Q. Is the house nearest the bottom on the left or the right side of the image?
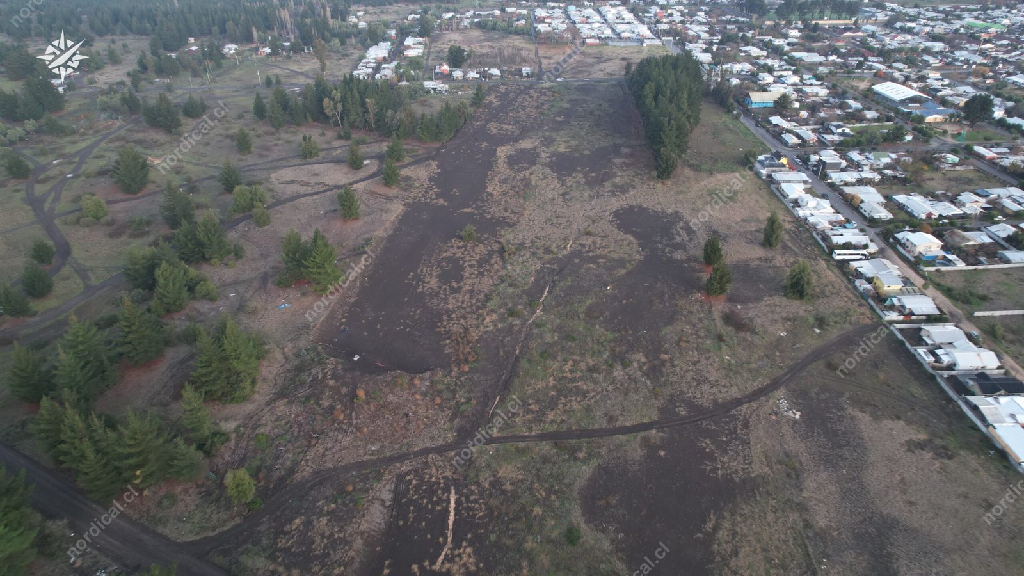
right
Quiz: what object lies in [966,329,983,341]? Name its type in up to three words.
vehicle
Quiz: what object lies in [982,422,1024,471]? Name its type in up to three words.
house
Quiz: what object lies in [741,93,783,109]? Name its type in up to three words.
building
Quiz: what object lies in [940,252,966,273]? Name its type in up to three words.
shed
